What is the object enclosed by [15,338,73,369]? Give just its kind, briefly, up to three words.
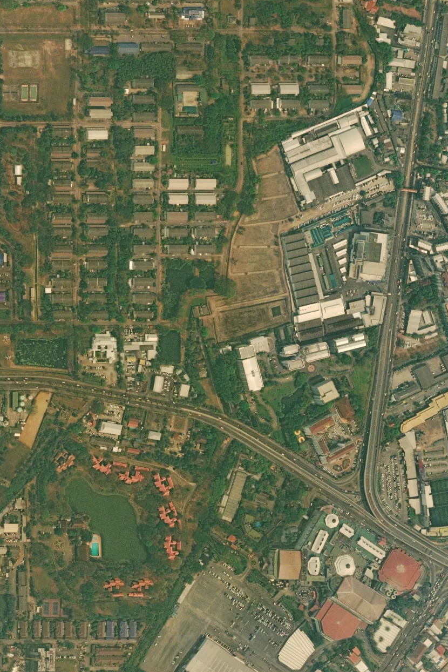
pond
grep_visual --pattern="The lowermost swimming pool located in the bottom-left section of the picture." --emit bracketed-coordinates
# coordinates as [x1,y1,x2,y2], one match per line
[90,532,104,560]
